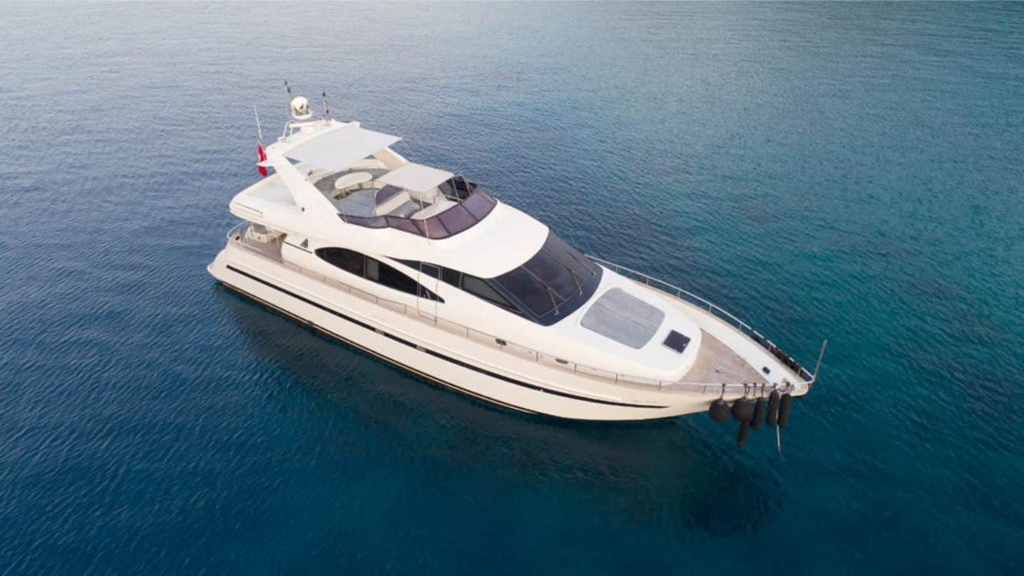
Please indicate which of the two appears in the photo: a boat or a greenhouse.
boat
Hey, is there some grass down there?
No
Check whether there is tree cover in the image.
No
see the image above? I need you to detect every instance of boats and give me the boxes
[207,84,829,420]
